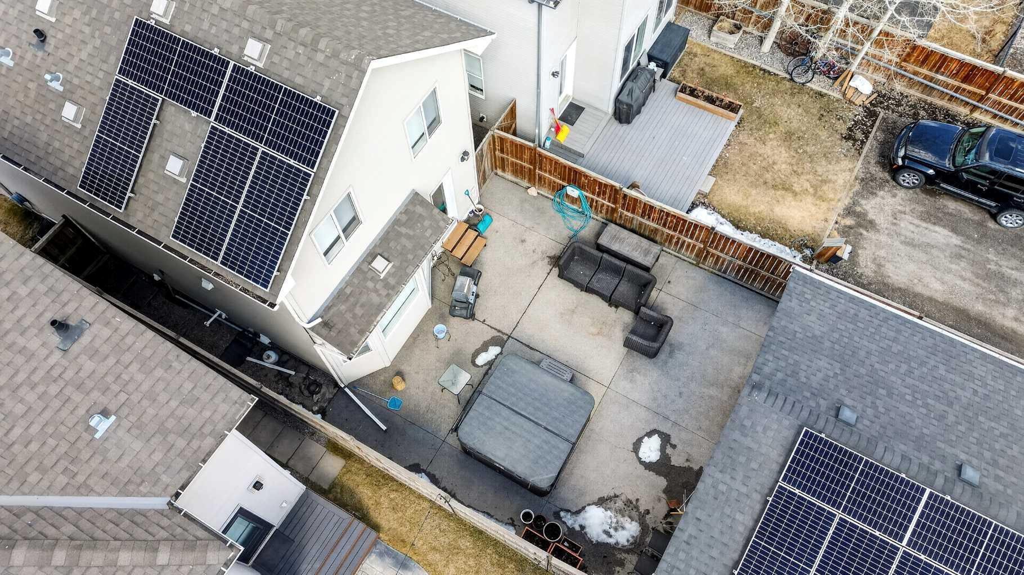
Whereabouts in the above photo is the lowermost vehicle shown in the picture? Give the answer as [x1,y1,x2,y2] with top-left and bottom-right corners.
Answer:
[884,112,1024,228]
